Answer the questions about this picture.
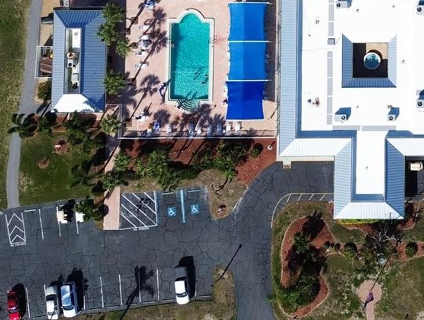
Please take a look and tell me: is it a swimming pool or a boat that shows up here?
swimming pool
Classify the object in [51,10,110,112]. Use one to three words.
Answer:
building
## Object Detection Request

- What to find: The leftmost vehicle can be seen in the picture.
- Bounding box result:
[6,288,24,319]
